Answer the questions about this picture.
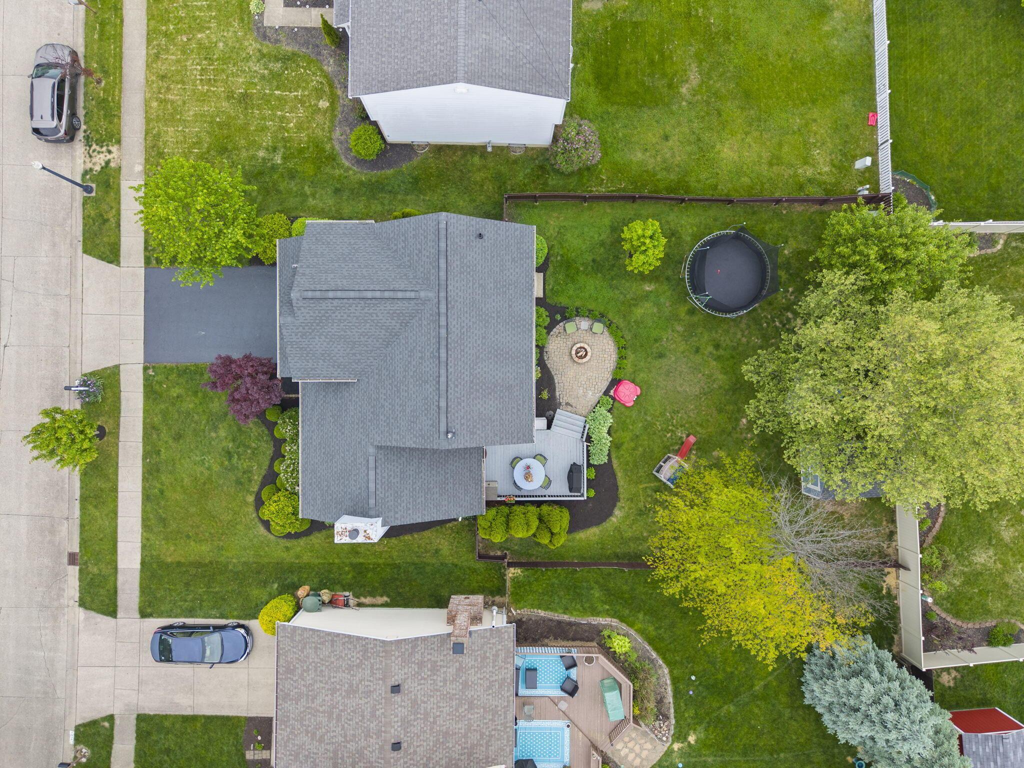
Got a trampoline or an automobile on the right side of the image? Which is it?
trampoline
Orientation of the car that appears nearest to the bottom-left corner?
from side to side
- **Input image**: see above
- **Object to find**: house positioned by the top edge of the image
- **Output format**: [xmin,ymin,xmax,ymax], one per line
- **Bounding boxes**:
[333,0,576,144]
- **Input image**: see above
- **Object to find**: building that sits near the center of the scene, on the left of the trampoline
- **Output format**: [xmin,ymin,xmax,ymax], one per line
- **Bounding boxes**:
[275,213,538,526]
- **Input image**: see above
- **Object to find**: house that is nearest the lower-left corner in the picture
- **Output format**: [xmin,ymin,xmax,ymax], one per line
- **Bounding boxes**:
[274,605,517,768]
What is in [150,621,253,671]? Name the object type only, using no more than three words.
car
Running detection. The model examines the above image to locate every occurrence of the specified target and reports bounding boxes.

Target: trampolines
[674,223,784,325]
